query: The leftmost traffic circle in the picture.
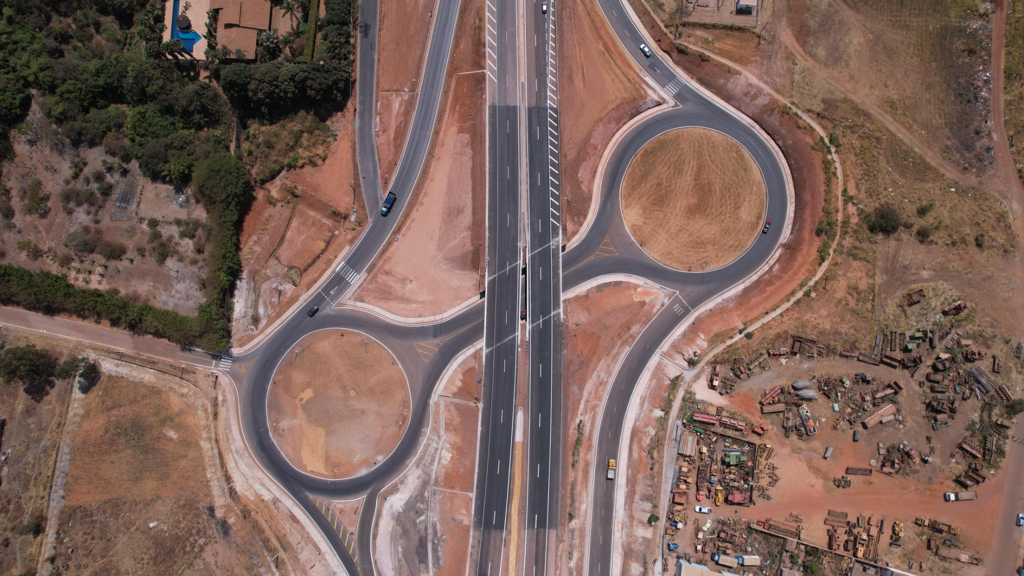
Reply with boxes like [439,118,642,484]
[243,306,431,502]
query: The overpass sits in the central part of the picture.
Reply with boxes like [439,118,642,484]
[479,227,571,358]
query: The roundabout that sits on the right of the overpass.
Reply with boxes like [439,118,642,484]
[600,103,789,294]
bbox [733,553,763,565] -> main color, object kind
white vehicle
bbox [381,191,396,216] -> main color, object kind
blue vehicle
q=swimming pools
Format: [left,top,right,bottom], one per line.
[170,0,203,54]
